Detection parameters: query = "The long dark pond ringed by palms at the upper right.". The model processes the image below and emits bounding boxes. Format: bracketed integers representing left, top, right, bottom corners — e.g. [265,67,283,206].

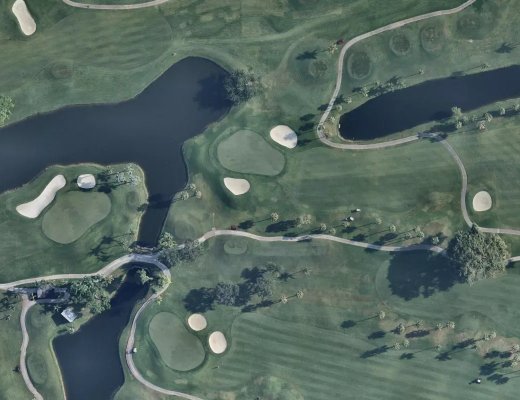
[339,64,520,139]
